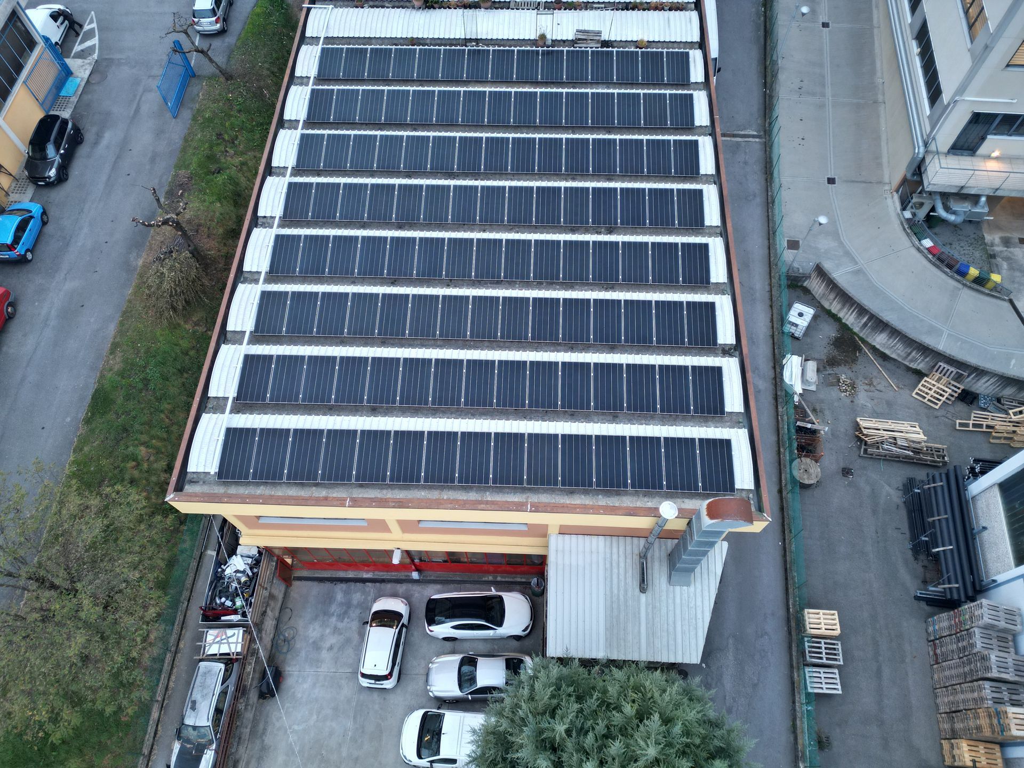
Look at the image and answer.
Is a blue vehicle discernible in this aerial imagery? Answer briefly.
Yes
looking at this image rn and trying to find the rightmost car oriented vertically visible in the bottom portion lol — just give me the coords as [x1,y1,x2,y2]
[356,596,408,690]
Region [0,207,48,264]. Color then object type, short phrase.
blue car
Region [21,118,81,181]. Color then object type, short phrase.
black car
